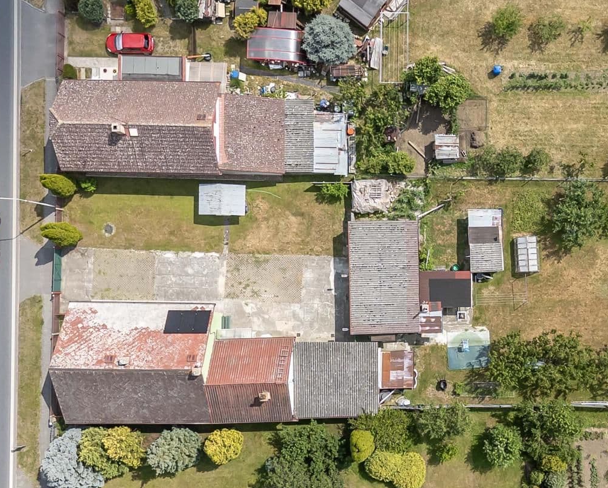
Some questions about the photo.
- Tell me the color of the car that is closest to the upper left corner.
red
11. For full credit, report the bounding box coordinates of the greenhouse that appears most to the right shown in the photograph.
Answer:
[513,237,540,273]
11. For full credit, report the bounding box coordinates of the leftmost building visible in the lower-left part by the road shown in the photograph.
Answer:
[46,300,225,425]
